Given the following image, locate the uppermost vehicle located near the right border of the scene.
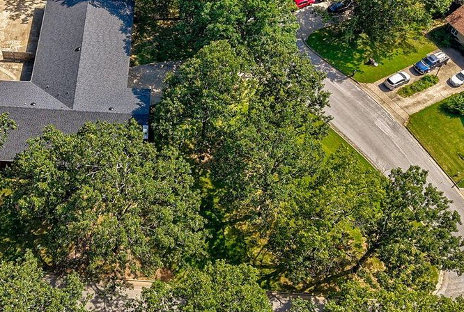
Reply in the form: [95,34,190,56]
[414,46,455,73]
